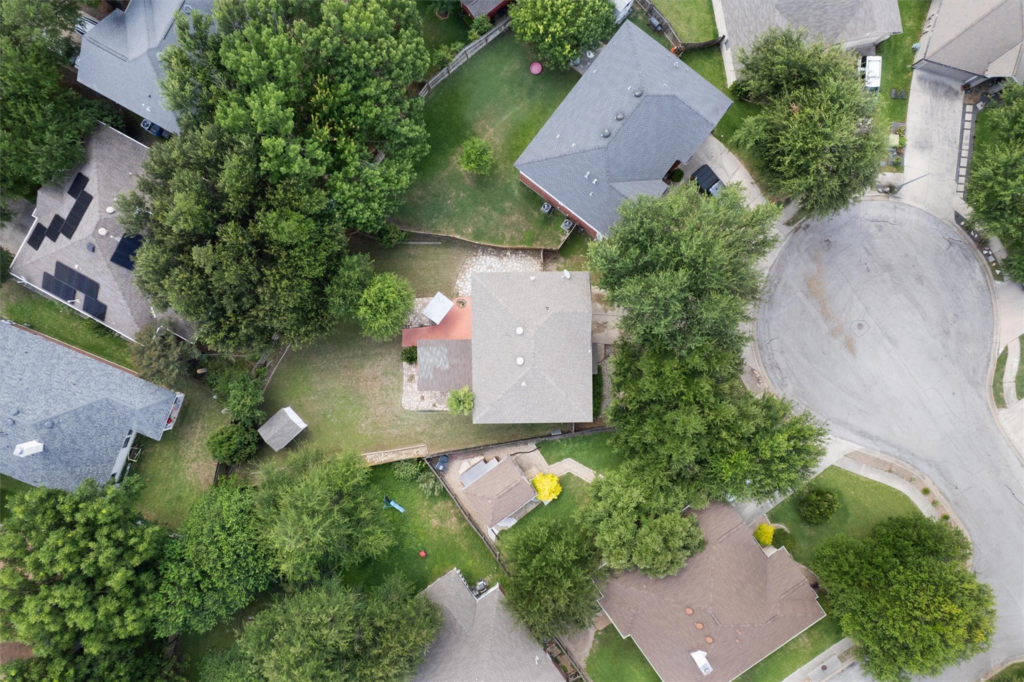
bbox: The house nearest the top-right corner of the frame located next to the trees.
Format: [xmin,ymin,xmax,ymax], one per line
[911,0,1024,85]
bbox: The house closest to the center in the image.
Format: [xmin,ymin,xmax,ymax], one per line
[417,269,599,424]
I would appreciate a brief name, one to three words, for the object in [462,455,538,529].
house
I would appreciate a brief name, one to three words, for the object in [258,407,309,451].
shed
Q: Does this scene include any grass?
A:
Yes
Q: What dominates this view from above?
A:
trees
